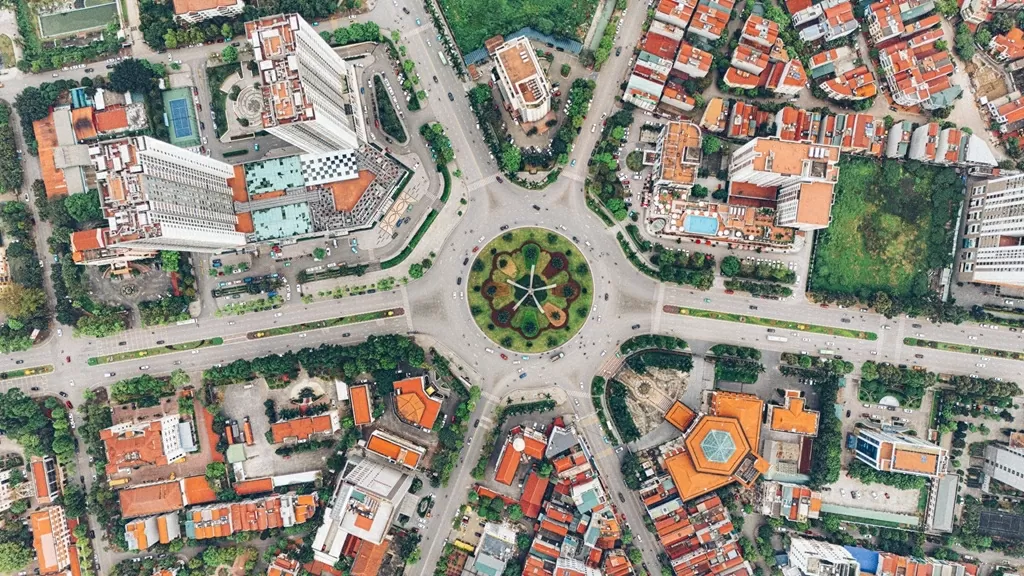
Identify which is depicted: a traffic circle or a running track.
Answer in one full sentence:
It is a traffic circle that can be seen here.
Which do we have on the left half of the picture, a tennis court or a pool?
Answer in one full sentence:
The one visible on the left half of the picture is a tennis court.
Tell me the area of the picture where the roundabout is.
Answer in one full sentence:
The roundabout sits in the center section of the image.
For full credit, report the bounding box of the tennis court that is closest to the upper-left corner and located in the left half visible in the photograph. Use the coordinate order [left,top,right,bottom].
[160,86,201,147]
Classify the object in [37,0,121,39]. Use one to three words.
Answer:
soccer field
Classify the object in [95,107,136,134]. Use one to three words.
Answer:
building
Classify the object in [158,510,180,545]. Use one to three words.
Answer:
house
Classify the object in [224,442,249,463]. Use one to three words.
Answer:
shed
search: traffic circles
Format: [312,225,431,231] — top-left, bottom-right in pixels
[467,226,594,354]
